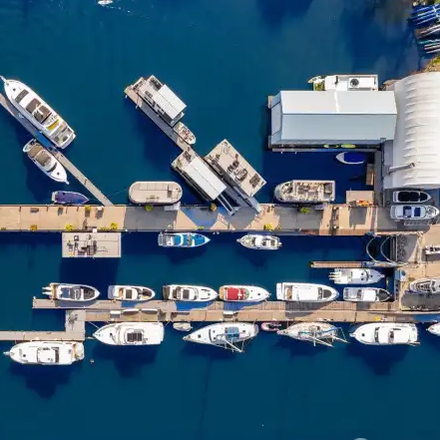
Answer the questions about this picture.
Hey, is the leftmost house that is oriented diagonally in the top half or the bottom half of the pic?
top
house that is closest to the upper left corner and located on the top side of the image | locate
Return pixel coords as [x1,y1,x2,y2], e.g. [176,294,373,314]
[136,75,189,124]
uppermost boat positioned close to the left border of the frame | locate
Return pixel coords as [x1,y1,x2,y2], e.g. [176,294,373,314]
[0,75,79,155]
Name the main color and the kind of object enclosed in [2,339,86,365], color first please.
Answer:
white boat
